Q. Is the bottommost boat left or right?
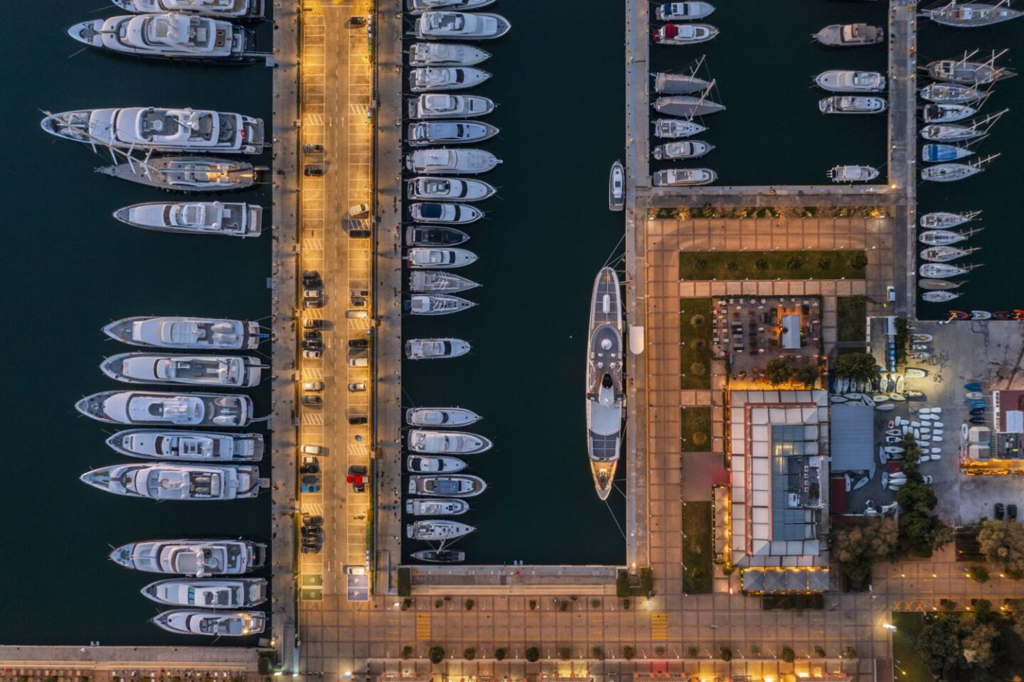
left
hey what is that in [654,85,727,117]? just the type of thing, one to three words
boat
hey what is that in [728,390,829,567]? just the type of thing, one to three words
building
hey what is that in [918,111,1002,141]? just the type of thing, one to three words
boat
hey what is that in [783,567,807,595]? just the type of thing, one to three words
tent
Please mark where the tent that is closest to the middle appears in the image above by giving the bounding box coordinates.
[628,326,643,353]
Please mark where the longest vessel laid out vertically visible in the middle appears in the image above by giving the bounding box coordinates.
[585,234,638,541]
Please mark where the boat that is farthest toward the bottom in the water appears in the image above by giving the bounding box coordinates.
[151,608,266,644]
